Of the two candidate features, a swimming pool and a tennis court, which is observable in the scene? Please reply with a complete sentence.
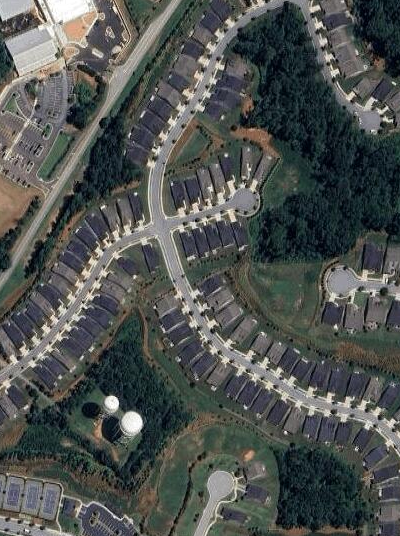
The one in the frame is a tennis court.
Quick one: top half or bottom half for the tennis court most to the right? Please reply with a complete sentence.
It is in the bottom half that the tennis court most to the right appears.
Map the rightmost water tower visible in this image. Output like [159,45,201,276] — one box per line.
[117,411,144,440]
